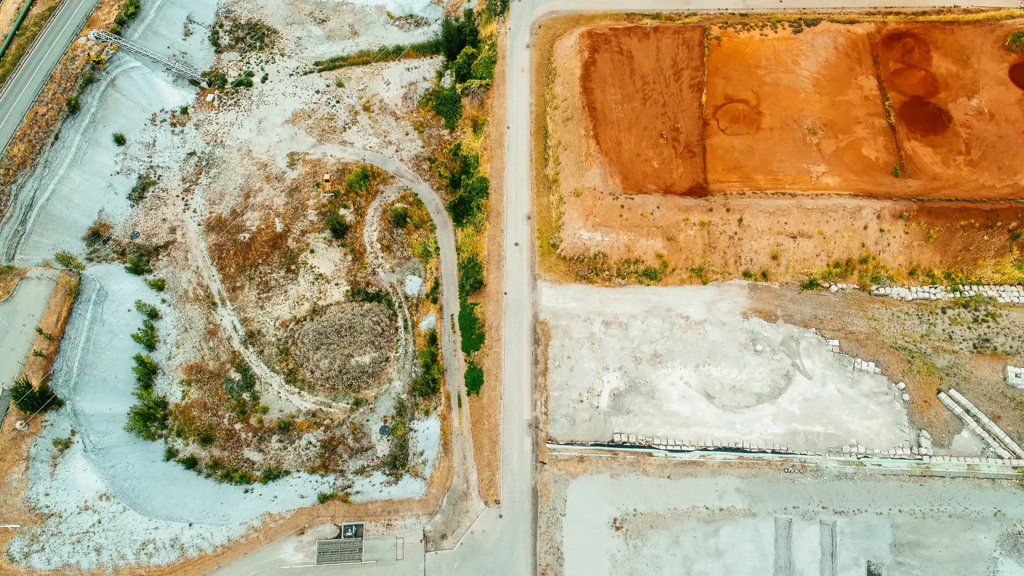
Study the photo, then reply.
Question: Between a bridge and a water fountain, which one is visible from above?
bridge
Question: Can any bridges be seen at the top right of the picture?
No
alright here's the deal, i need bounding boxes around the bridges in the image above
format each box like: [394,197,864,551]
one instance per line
[95,31,203,84]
